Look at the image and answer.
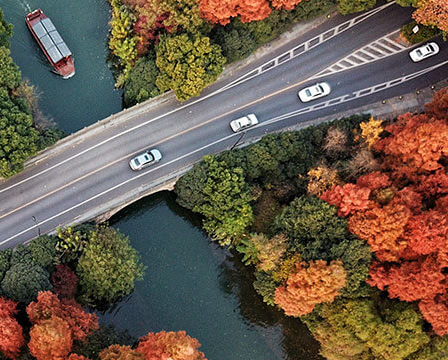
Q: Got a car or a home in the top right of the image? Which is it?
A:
car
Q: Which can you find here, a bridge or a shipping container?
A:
bridge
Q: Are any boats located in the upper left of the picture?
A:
Yes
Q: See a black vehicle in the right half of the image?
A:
No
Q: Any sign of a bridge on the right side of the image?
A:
No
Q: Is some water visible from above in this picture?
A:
Yes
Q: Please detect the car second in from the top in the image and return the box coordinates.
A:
[298,80,333,102]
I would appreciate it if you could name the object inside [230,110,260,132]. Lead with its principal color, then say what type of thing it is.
white car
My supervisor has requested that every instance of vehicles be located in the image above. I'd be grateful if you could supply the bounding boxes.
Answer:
[298,80,333,102]
[129,147,163,169]
[410,39,443,61]
[230,110,260,132]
